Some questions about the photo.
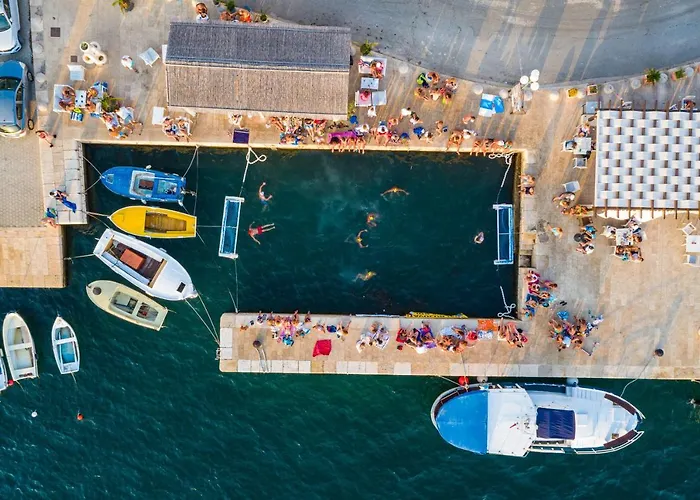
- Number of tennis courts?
none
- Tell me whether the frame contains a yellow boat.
Yes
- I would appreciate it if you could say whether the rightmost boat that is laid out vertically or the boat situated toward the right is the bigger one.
the boat situated toward the right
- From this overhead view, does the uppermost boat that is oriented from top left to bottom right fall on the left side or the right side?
left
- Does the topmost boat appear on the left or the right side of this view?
left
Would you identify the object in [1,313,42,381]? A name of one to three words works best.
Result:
boat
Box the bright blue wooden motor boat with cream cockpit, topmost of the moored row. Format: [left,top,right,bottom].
[97,163,198,205]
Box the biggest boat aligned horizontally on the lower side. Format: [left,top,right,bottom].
[428,382,649,461]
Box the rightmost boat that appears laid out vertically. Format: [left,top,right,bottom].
[50,316,82,375]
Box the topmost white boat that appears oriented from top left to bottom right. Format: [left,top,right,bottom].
[93,229,196,301]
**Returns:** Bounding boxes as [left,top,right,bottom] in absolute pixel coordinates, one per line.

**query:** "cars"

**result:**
[0,0,27,55]
[0,55,31,136]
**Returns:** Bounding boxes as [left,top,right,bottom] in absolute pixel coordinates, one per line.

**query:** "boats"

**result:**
[1,313,42,381]
[50,316,82,375]
[428,382,649,461]
[0,338,11,388]
[105,205,200,239]
[93,229,196,301]
[97,163,198,205]
[81,282,170,330]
